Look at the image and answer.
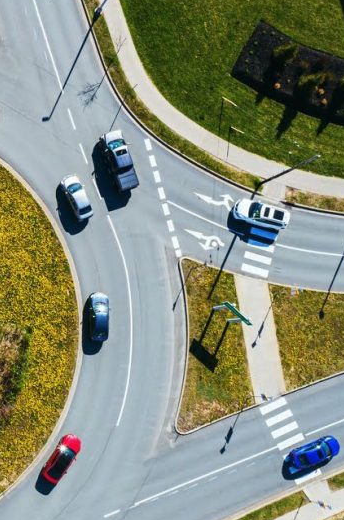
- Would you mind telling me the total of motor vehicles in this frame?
6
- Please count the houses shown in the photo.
none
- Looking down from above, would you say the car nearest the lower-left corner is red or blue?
red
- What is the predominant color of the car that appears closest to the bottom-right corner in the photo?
blue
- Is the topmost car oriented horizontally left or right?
right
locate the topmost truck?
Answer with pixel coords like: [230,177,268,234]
[103,132,139,191]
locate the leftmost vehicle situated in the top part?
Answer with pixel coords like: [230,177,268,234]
[60,177,93,222]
